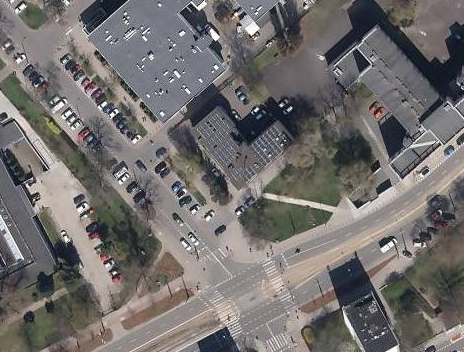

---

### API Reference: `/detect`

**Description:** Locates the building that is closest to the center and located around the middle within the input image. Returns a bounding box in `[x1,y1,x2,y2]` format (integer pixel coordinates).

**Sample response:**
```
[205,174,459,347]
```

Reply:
[193,106,294,195]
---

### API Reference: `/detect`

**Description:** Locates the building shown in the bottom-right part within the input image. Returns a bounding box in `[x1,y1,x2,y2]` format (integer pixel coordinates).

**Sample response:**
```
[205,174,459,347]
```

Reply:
[342,291,398,352]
